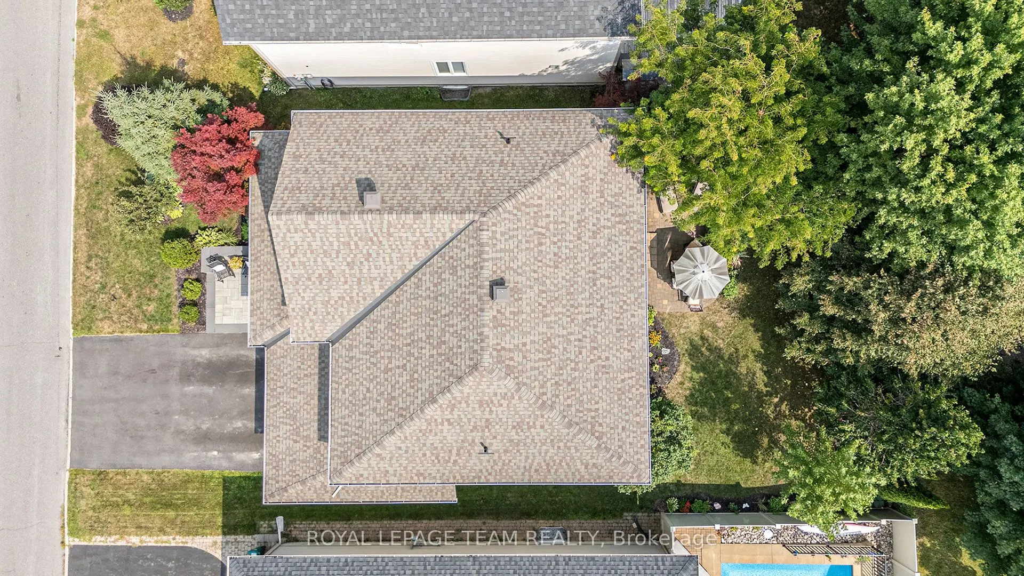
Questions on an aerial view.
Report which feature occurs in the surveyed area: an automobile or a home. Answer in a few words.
home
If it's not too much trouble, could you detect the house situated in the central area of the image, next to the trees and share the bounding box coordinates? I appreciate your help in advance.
[248,108,650,503]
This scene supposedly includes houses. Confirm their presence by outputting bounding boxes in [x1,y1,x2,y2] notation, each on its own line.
[215,0,645,91]
[248,108,650,503]
[229,531,698,576]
